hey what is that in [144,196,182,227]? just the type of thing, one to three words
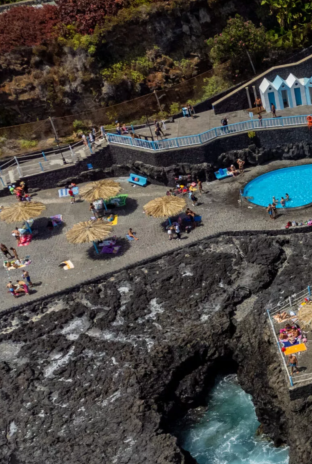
umbrella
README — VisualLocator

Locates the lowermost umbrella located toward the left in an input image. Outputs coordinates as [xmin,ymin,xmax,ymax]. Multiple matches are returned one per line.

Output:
[68,222,110,255]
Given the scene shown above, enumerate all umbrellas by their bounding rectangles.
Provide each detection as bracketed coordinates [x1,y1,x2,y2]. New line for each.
[1,204,42,235]
[297,302,312,328]
[144,196,182,227]
[80,181,116,212]
[68,222,110,255]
